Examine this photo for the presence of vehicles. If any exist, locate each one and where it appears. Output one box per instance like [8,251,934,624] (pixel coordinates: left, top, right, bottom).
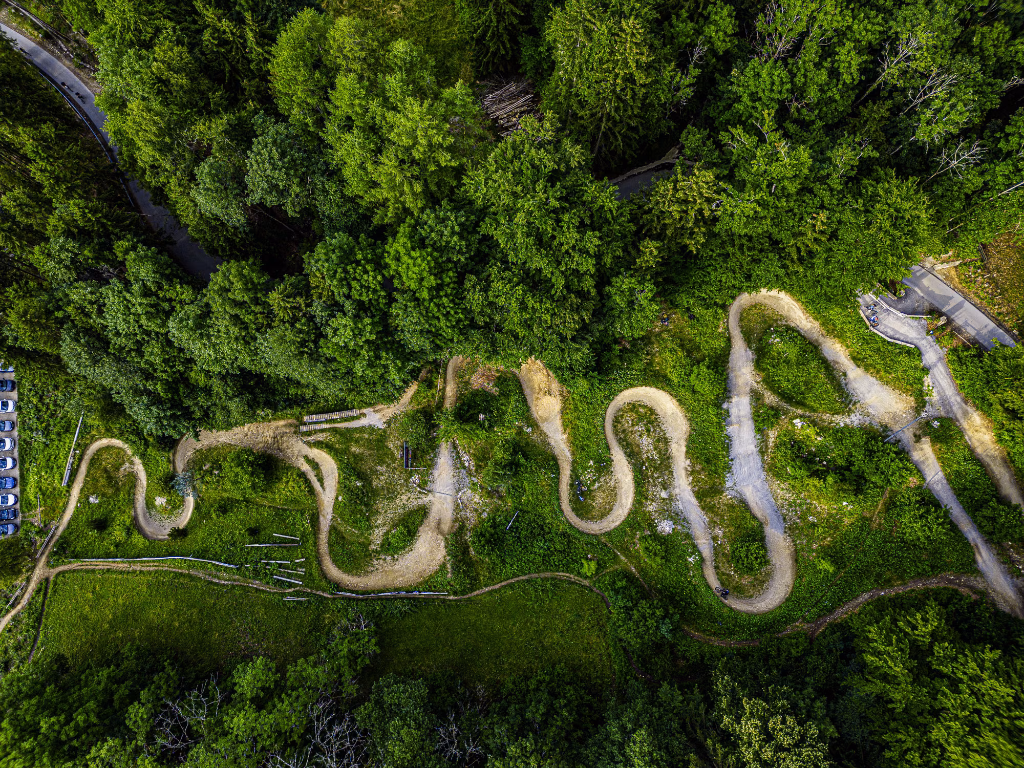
[0,438,13,451]
[0,476,15,492]
[0,493,17,508]
[0,399,14,414]
[0,457,14,472]
[0,378,15,393]
[0,360,14,375]
[0,419,13,432]
[0,524,17,538]
[0,508,17,523]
